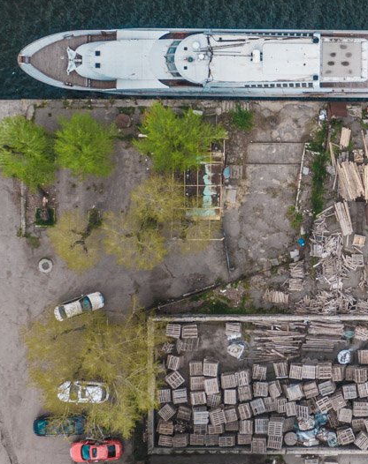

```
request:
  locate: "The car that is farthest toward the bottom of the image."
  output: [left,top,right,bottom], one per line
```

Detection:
[70,440,124,464]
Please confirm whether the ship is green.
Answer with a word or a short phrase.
No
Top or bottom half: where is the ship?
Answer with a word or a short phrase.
top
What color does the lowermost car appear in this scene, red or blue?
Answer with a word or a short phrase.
red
